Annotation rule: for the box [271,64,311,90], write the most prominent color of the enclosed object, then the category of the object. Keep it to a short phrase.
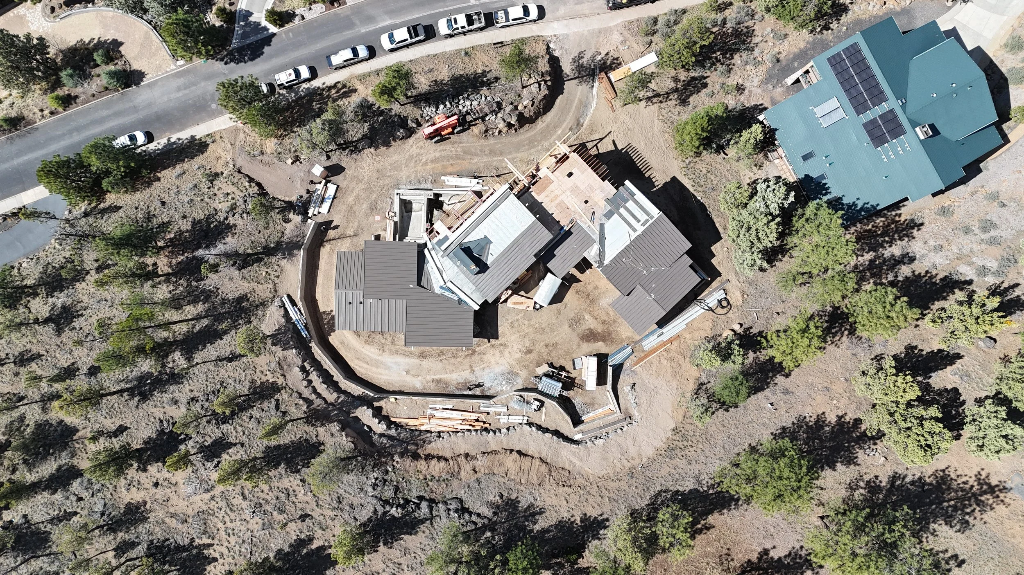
white car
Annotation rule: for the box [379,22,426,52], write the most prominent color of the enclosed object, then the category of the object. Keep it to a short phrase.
white truck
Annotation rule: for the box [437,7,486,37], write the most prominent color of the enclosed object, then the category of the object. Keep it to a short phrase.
white truck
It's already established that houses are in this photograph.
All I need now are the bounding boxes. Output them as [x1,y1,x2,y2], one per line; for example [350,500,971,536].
[763,15,1003,222]
[335,131,712,350]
